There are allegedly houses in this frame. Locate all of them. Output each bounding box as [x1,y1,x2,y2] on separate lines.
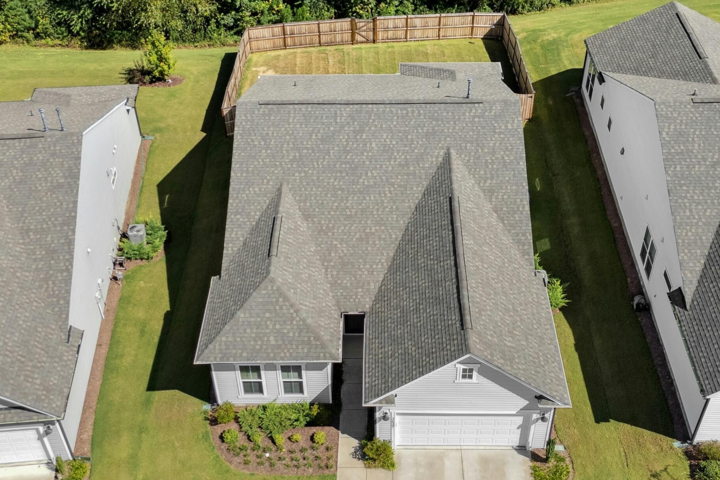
[579,0,720,442]
[0,84,146,462]
[192,61,574,448]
